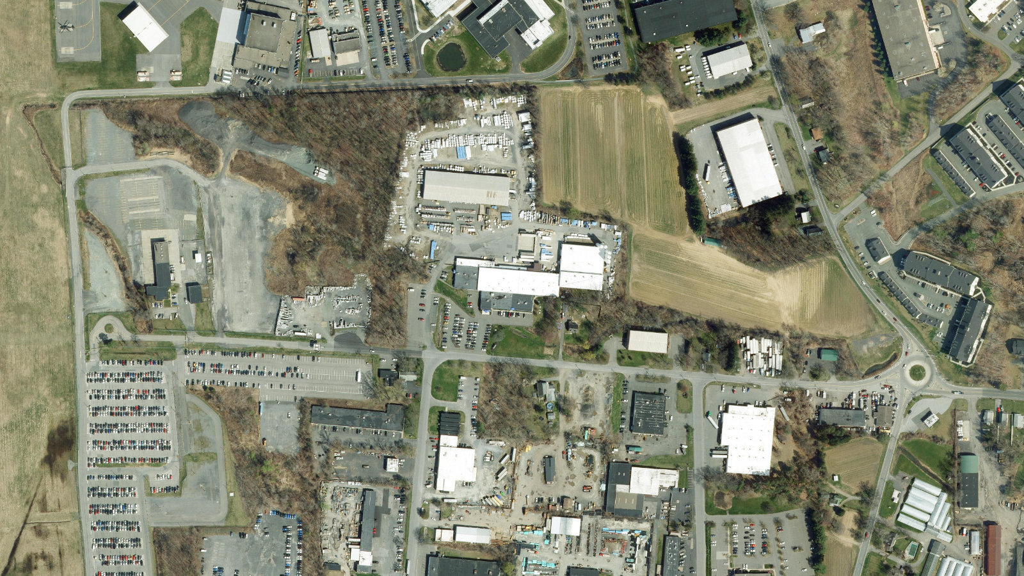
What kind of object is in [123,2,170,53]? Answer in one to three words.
hangar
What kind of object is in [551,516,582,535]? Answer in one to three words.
shed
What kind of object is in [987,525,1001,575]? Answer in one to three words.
barn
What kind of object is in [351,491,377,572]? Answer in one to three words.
building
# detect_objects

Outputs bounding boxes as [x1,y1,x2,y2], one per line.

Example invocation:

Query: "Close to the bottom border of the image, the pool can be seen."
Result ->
[905,542,919,560]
